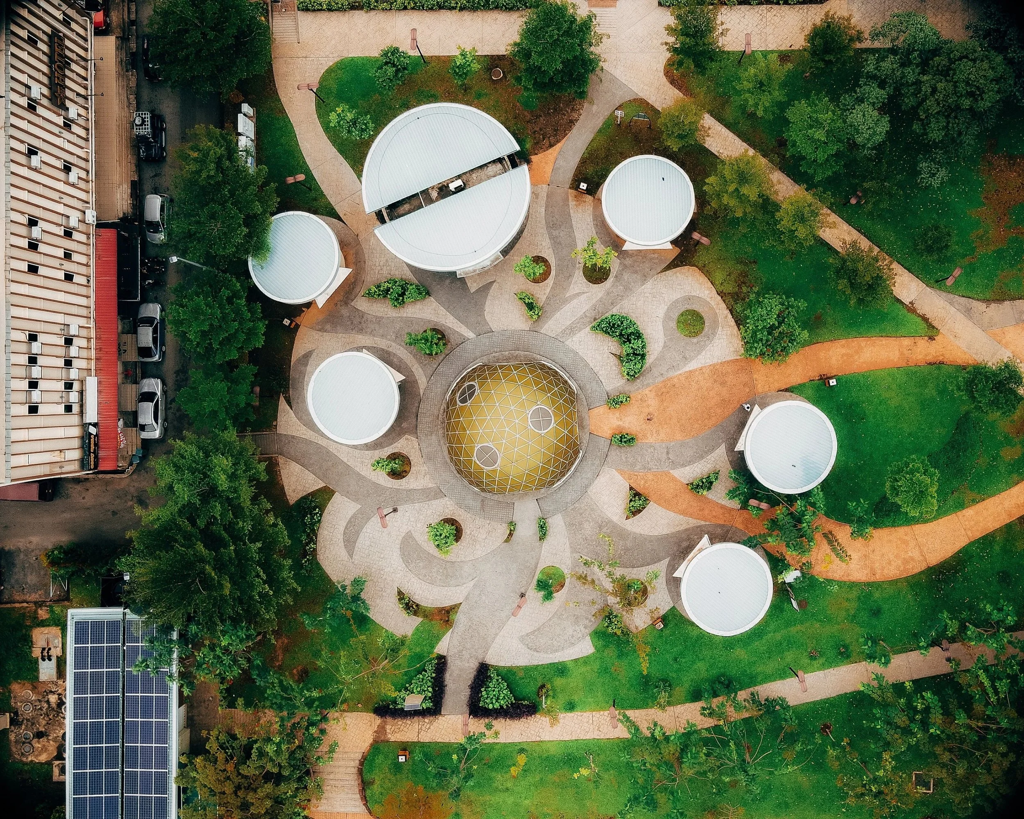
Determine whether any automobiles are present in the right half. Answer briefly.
No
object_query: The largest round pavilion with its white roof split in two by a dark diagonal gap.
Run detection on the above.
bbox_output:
[362,102,531,278]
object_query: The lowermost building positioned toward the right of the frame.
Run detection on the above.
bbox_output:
[672,535,773,636]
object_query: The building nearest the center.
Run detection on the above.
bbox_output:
[307,349,405,445]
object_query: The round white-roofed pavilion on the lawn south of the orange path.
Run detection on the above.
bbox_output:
[735,401,837,494]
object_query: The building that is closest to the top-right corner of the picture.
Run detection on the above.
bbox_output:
[602,154,694,250]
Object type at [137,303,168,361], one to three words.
car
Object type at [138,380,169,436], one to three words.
car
